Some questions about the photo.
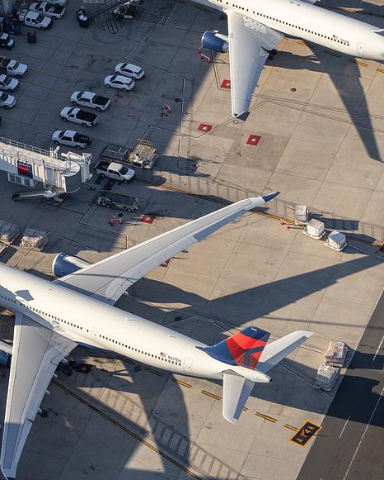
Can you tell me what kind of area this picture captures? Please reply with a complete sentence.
What you see here is an airport.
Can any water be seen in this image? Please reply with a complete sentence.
No, there's no water in this view.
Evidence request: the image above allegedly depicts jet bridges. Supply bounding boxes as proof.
[83,0,152,28]
[0,136,102,215]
